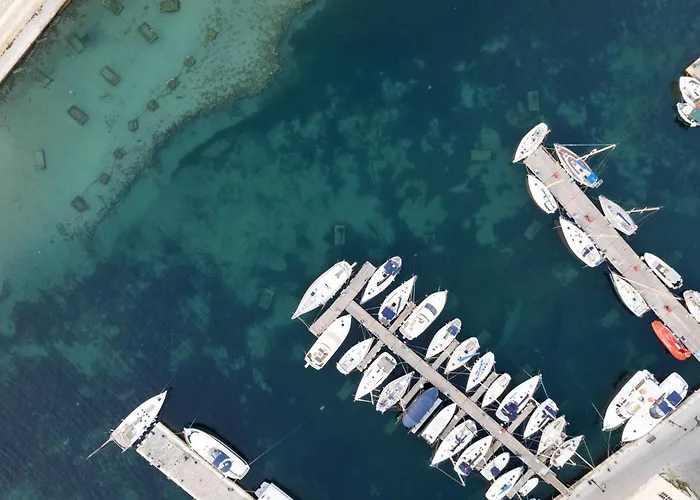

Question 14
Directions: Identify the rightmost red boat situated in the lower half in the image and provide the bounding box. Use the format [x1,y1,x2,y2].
[651,318,691,365]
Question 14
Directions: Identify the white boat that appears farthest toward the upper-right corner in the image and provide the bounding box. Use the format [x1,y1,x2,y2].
[675,74,700,109]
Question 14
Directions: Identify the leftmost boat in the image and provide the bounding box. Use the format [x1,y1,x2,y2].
[91,385,170,459]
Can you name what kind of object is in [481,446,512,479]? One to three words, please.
boat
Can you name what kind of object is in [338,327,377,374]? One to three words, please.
boat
